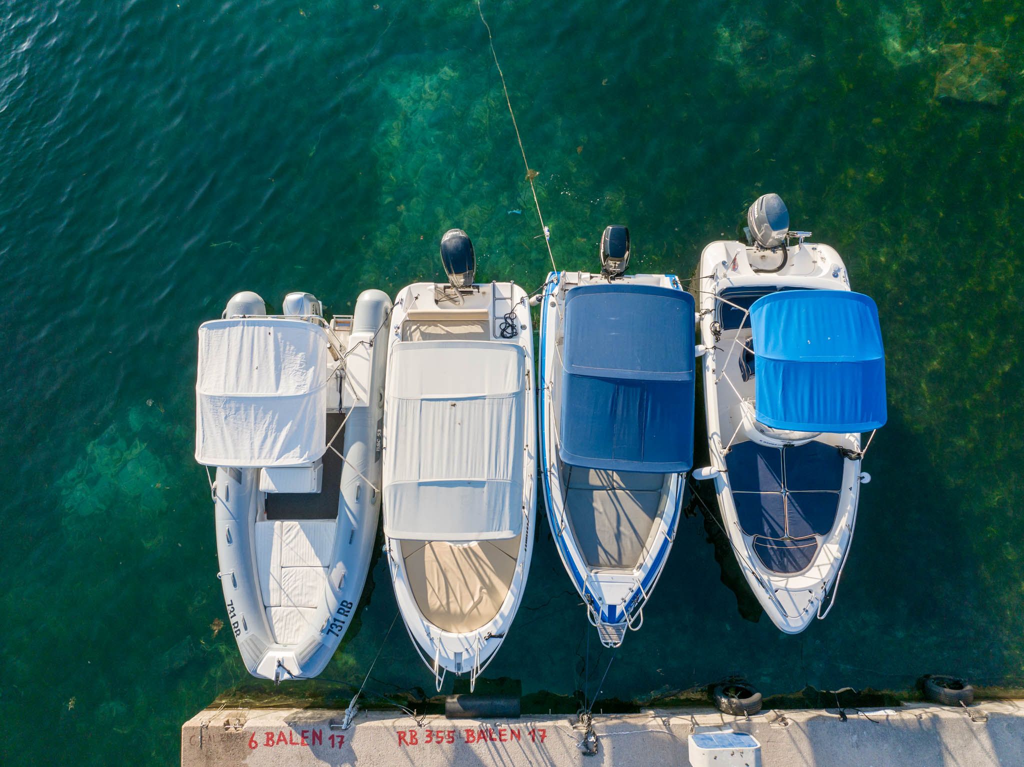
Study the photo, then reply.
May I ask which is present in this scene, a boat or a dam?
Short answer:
boat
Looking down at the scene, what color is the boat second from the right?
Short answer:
blue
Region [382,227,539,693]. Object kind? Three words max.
boat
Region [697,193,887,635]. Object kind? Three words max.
boat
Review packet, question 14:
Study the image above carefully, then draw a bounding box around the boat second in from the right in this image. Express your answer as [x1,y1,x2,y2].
[536,222,697,648]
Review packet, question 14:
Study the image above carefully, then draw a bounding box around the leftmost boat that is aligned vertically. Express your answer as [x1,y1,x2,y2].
[195,283,393,682]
